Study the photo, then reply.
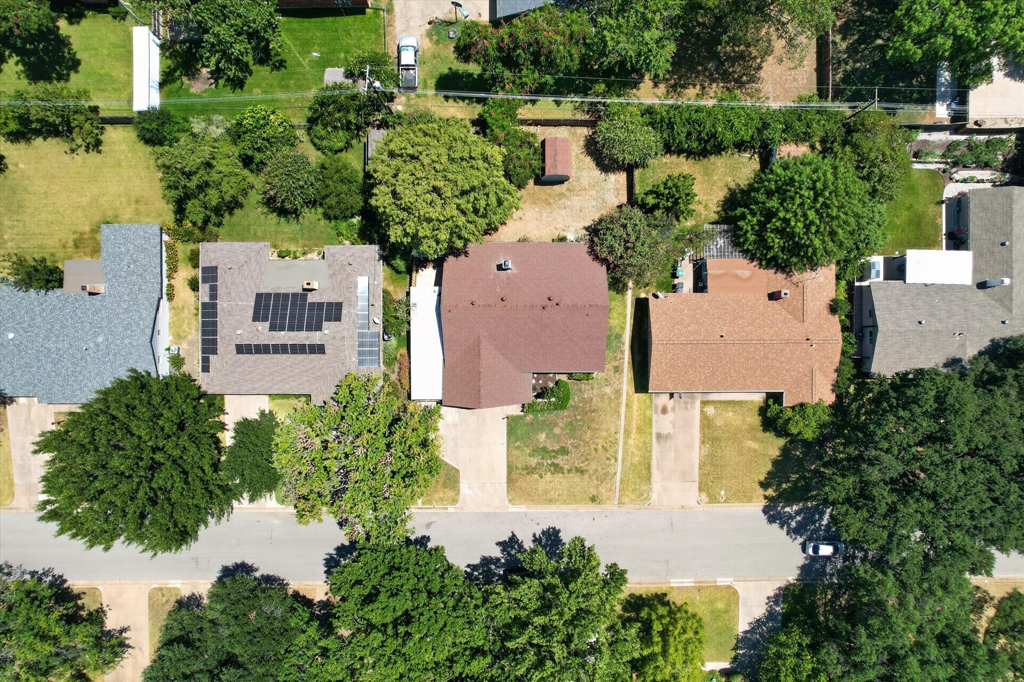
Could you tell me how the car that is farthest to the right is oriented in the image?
from side to side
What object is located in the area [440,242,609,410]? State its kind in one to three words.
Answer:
house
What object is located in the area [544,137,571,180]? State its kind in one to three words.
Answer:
shed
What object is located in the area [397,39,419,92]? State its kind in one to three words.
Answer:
truck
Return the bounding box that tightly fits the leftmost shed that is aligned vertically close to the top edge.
[133,26,160,116]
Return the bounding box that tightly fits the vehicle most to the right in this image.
[802,538,844,559]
